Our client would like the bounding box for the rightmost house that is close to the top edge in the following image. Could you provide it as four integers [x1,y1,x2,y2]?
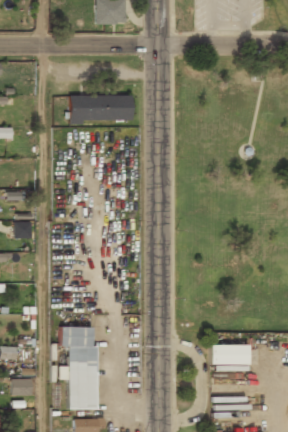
[94,0,126,25]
